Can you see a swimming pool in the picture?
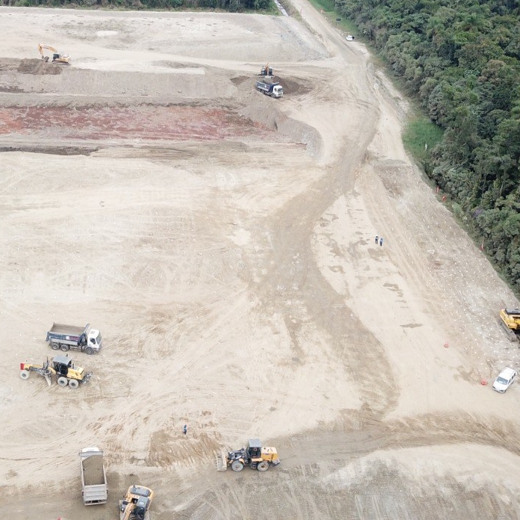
No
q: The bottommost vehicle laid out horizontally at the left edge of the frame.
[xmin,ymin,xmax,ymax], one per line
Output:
[17,358,90,392]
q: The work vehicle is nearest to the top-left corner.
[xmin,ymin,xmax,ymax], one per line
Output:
[36,42,70,65]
